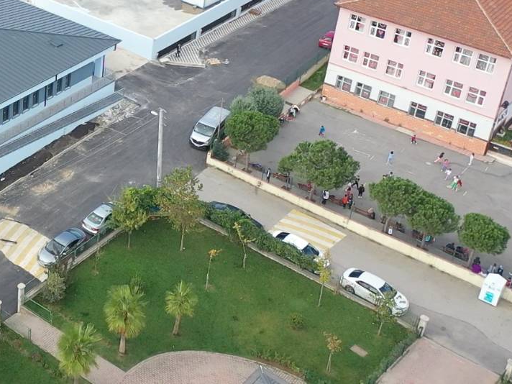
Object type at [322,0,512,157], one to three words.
building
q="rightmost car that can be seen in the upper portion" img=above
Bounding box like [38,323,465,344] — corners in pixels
[316,30,336,53]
